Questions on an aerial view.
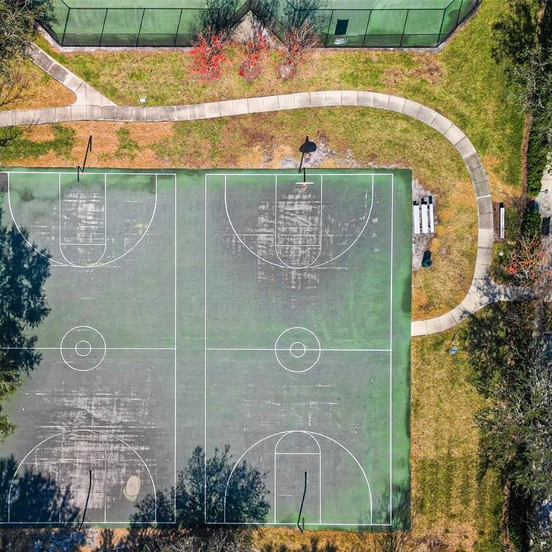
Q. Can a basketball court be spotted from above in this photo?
Yes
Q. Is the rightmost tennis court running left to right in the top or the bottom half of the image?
top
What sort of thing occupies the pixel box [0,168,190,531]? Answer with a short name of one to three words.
basketball court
